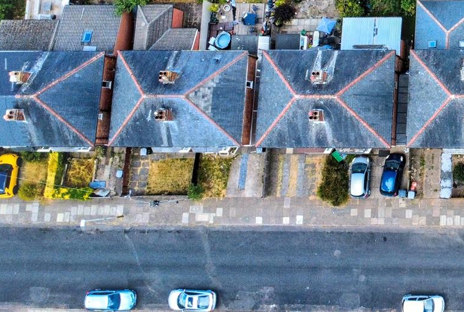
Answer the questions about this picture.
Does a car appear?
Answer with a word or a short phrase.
Yes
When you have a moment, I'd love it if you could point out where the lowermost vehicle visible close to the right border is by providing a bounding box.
[401,292,447,312]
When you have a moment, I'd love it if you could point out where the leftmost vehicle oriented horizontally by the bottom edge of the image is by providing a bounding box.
[82,286,140,312]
